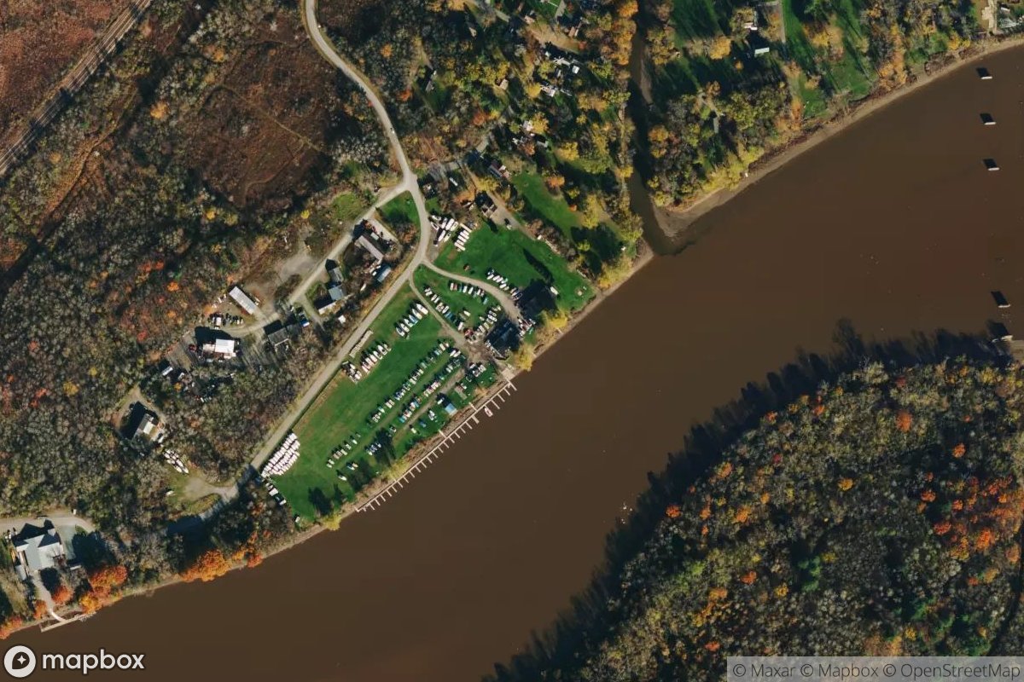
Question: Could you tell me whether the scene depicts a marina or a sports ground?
marina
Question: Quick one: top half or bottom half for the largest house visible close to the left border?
bottom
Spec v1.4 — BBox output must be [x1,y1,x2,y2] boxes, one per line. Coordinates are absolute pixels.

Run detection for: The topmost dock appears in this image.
[355,377,516,512]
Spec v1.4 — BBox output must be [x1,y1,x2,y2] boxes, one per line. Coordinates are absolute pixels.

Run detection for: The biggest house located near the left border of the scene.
[10,533,62,573]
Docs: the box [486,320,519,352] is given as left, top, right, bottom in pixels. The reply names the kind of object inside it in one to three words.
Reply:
building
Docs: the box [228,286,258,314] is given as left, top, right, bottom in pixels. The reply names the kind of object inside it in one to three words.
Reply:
shed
